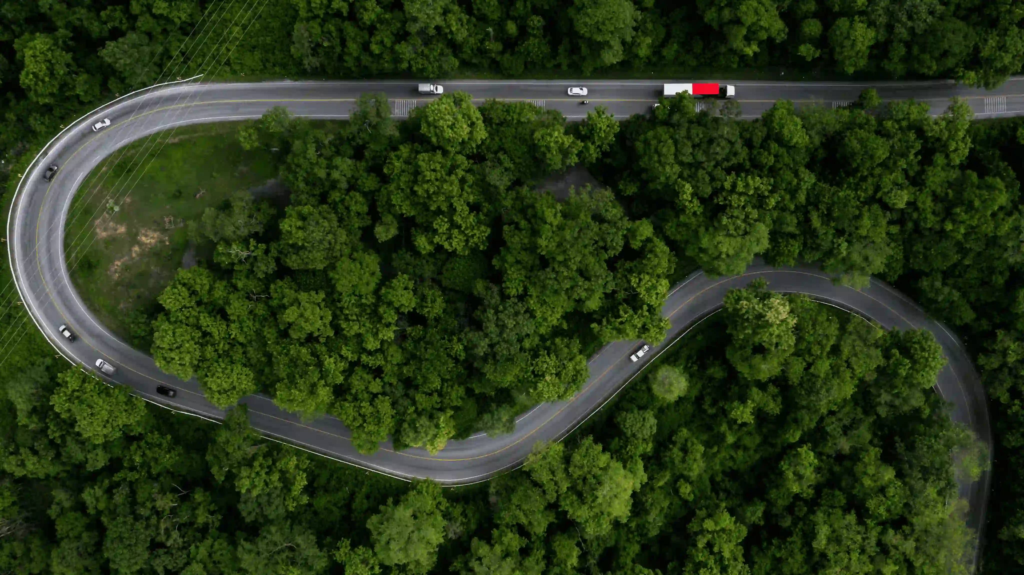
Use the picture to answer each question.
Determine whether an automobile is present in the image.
Yes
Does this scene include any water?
No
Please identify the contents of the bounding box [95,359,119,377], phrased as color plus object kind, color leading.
white vehicle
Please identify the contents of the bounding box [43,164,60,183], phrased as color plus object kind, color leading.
gray car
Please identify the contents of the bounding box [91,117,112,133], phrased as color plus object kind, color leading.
white car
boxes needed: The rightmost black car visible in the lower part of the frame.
[156,384,177,397]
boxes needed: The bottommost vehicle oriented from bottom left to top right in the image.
[629,342,651,362]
